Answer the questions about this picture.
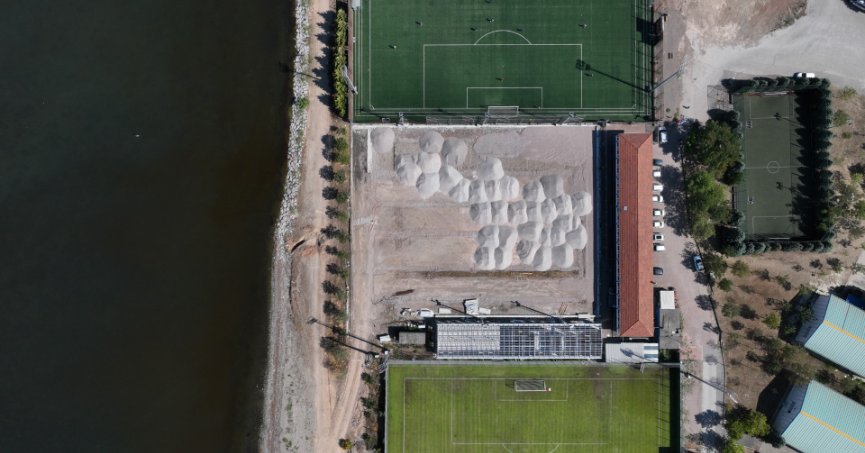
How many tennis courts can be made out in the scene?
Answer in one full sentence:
The photo contains no tennis courts.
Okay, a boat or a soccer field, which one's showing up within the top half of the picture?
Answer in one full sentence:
Visible within the top half of the picture is a soccer field.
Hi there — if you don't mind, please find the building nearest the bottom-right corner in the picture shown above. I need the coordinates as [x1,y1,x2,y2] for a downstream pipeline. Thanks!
[772,377,865,453]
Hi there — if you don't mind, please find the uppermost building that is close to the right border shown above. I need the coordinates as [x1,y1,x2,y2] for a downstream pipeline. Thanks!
[797,293,865,379]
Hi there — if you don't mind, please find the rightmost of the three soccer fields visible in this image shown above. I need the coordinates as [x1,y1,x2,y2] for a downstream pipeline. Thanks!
[732,94,812,241]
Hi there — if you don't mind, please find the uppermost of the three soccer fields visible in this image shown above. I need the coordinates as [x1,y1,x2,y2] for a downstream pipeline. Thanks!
[353,0,653,124]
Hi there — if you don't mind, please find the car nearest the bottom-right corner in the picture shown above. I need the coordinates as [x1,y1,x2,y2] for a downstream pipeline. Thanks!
[692,254,705,273]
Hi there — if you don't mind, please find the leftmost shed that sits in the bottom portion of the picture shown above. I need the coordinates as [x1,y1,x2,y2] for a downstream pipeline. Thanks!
[399,331,425,345]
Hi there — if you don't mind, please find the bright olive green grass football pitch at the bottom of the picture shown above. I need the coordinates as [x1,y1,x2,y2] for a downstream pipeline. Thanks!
[389,366,681,453]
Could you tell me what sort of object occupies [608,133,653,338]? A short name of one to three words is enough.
building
